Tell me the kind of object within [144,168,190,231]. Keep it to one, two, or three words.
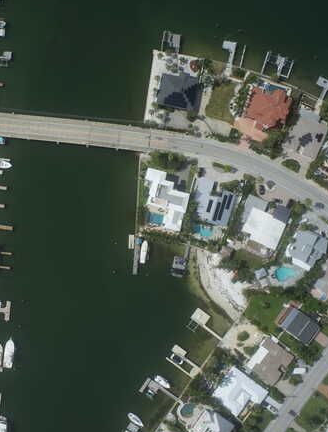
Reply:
house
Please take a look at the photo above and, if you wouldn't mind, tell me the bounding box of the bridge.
[0,111,153,152]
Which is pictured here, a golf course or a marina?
marina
